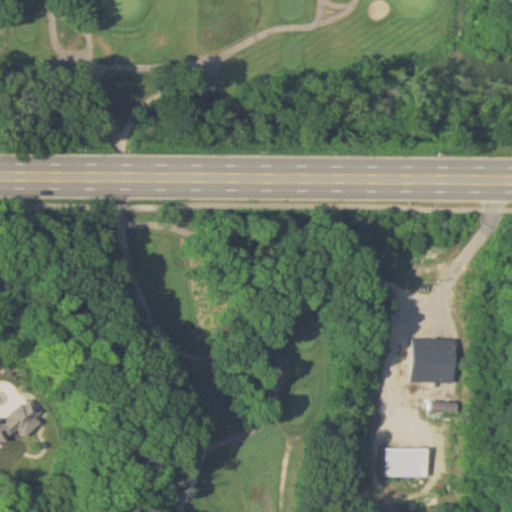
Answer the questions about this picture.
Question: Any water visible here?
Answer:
No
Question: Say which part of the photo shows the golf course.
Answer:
top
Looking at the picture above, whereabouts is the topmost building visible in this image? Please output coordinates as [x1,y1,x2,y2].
[409,339,458,384]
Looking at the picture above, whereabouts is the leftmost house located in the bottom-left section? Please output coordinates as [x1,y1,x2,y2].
[0,402,42,450]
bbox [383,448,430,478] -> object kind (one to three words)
shed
